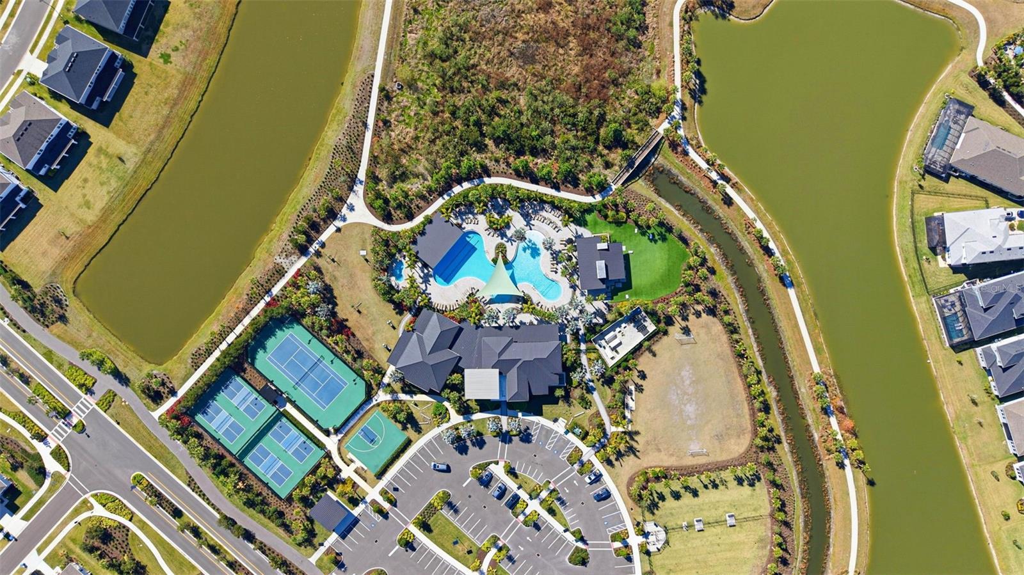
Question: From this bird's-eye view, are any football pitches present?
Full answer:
Yes, a football pitch appears in the view.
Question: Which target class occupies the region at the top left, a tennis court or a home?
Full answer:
It is a home that can be seen at the top left.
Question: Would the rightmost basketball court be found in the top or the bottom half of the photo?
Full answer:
The rightmost basketball court sits in the bottom half of the picture.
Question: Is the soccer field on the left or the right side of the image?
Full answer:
It is on the right.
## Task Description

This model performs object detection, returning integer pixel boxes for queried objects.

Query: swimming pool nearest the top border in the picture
[932,120,951,151]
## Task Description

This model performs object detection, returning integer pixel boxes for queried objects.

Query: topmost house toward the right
[946,116,1024,199]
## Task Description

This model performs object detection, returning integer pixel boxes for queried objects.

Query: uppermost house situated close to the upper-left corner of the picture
[73,0,162,41]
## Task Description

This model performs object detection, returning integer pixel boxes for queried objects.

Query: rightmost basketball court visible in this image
[345,410,408,474]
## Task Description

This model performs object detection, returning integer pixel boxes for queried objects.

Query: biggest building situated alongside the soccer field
[387,307,566,402]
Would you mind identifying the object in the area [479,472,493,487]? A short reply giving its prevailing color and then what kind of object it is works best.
blue car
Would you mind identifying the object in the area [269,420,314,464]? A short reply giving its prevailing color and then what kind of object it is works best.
blue sports court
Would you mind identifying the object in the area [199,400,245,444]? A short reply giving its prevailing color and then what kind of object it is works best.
blue sports court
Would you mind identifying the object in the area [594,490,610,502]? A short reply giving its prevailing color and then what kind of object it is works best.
blue vehicle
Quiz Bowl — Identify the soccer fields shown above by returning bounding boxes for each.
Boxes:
[602,314,751,530]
